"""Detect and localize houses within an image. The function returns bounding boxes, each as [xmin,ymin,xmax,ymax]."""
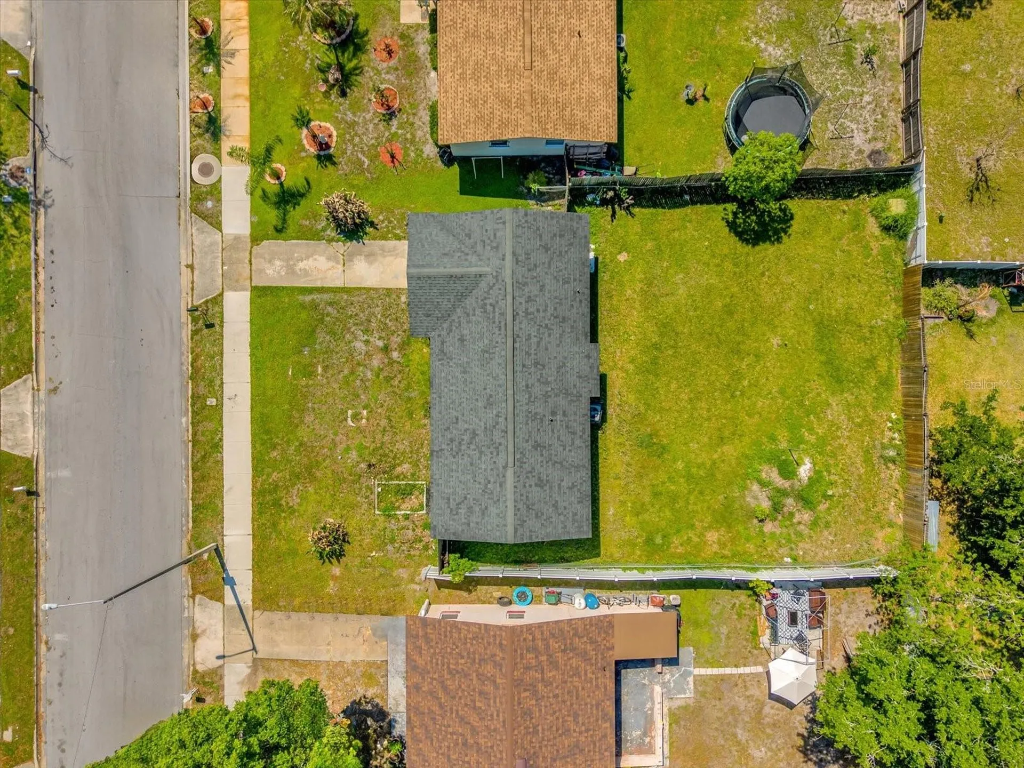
[408,208,600,543]
[405,605,678,768]
[438,0,619,155]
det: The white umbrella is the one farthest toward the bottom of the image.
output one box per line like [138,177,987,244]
[768,647,817,705]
